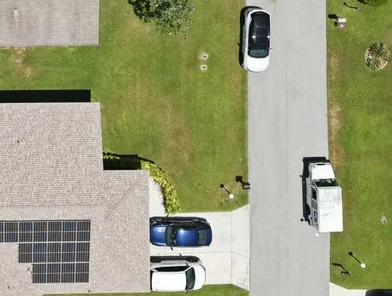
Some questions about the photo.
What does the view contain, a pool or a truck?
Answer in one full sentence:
It is a truck that can be seen here.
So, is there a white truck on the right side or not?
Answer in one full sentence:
Yes, a white truck is visible on the right side.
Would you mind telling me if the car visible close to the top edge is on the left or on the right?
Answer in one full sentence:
The car visible close to the top edge appears in the right half of the scene.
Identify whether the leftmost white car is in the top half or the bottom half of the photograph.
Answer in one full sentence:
The leftmost white car sits in the bottom half of the picture.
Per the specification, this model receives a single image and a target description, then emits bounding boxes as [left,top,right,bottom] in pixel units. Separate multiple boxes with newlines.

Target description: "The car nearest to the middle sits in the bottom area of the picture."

[149,216,212,249]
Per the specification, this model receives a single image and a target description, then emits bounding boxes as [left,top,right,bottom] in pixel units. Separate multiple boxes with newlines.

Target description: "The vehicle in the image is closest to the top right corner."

[239,8,273,72]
